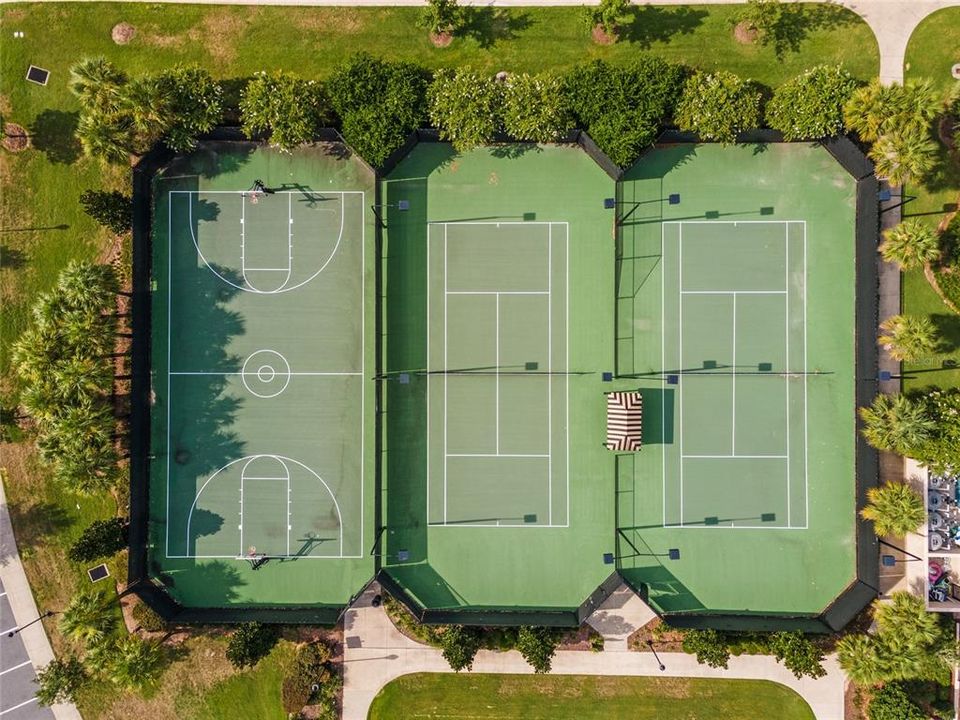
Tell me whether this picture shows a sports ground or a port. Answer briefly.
sports ground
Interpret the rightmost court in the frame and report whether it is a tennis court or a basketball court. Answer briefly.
tennis court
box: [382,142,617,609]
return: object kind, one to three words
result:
tennis court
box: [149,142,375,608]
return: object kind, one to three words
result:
basketball court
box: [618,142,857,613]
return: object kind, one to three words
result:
tennis court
